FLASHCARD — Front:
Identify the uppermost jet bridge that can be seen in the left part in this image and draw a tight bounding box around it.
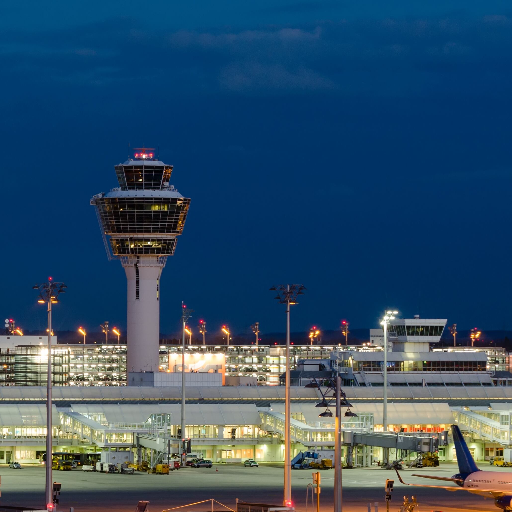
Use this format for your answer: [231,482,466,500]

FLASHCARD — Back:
[127,436,199,478]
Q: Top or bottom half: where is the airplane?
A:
bottom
